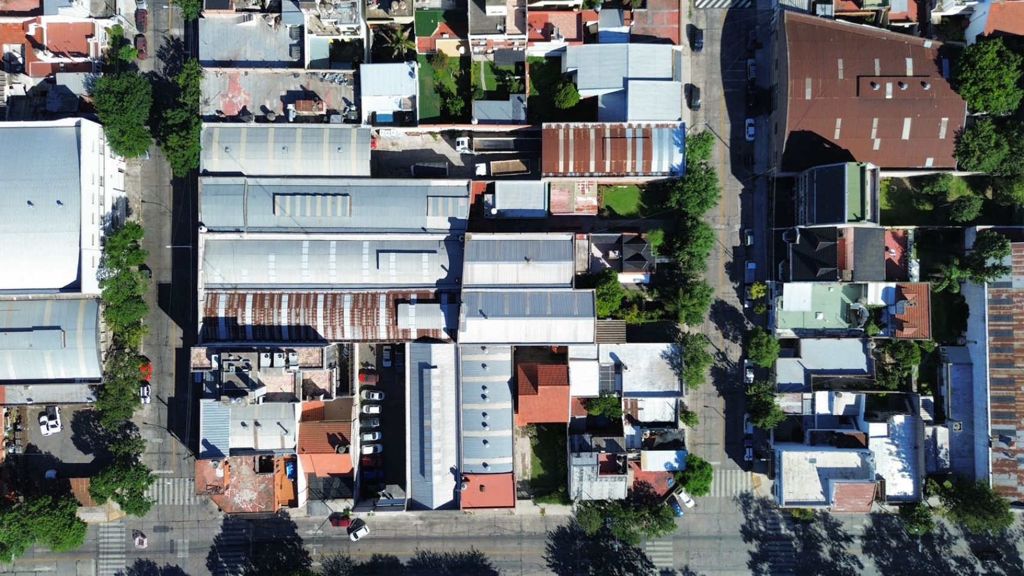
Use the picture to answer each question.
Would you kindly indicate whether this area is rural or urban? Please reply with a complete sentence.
From above, the setting appears urban.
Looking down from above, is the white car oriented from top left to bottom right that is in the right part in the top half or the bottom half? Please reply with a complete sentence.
The bottom half of the photo is where the white car oriented from top left to bottom right that is in the right part is.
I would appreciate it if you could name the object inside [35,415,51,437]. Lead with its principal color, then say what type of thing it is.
white car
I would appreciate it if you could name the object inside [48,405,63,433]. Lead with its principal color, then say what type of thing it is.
white vehicle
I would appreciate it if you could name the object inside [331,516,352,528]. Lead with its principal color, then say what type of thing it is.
red vehicle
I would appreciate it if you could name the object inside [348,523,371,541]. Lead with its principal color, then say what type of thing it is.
white car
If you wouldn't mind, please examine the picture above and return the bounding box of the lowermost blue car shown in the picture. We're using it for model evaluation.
[667,497,684,518]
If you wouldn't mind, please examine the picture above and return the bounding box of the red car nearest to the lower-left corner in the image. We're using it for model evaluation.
[141,360,153,381]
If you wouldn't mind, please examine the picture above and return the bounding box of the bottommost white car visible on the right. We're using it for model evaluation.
[675,487,695,510]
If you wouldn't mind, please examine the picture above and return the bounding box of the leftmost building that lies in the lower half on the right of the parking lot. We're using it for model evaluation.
[405,342,461,510]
